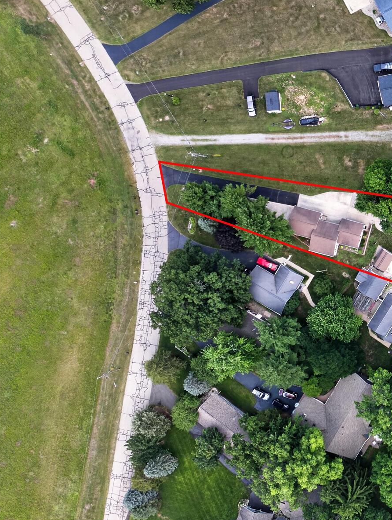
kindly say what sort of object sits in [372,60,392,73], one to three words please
vehicle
